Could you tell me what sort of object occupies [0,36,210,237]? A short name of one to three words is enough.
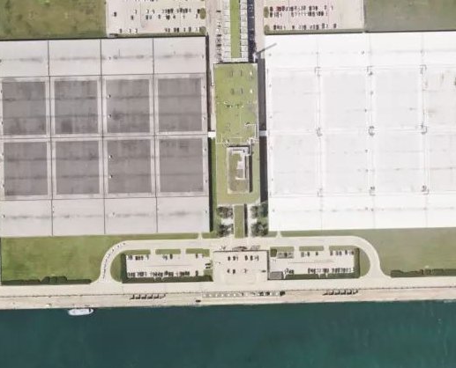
building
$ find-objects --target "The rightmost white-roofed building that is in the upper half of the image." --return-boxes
[265,31,456,231]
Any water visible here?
Yes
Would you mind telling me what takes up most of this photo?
buildings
